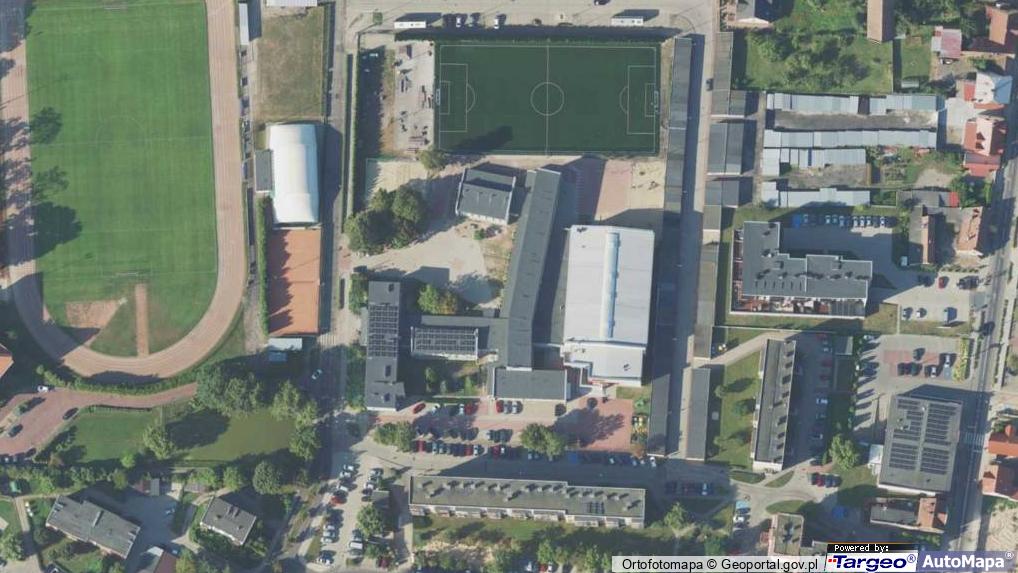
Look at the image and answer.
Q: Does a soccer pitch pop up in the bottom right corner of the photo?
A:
No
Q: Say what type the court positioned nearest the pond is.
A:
tennis court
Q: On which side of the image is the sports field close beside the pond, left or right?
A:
left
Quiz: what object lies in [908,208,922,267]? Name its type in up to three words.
shed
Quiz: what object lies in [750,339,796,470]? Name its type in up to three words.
building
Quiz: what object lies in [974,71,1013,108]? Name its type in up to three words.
house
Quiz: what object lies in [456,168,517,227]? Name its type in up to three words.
building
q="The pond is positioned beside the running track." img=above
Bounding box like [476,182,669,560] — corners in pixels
[158,409,297,464]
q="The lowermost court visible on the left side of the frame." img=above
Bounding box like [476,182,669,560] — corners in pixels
[268,228,320,334]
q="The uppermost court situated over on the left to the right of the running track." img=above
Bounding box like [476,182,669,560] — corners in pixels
[364,156,427,214]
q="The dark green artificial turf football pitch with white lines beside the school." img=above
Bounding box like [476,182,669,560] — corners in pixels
[434,42,659,154]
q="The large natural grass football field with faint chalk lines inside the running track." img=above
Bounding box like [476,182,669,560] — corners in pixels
[26,0,217,358]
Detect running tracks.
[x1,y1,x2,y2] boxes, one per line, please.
[0,0,245,386]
